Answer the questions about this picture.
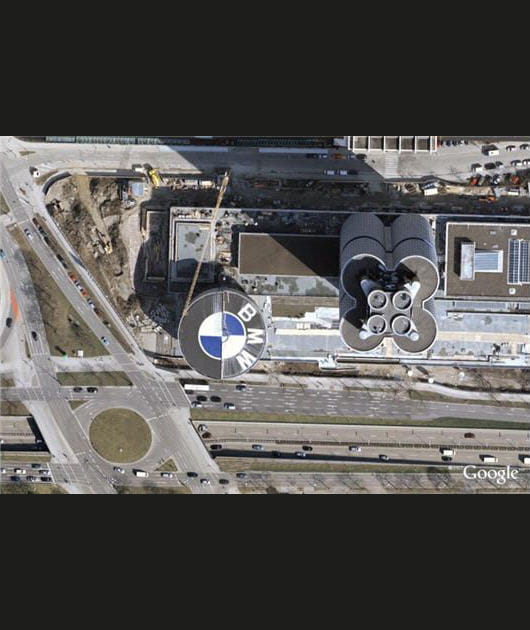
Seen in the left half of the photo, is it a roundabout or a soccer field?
roundabout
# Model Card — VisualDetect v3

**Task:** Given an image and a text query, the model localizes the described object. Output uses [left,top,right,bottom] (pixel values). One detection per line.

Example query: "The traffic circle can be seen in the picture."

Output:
[88,407,153,465]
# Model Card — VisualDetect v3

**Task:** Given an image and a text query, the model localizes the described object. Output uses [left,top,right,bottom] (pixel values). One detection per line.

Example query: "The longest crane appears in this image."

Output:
[182,164,231,318]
